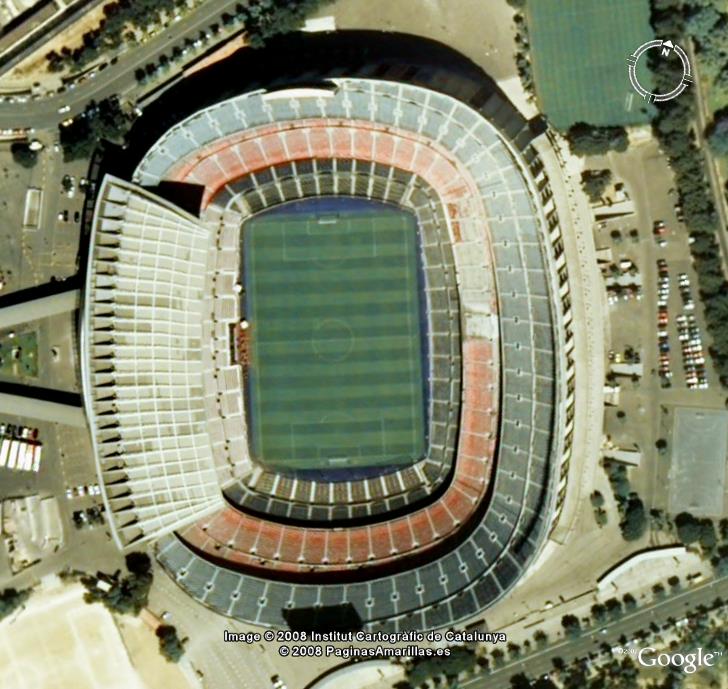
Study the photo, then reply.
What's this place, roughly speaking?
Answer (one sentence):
The area seen from above is a sports ground.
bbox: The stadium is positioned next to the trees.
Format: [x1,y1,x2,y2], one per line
[74,63,583,646]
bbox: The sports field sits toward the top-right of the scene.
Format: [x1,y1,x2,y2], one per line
[528,0,655,128]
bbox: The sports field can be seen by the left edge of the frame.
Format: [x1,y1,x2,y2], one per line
[0,590,140,689]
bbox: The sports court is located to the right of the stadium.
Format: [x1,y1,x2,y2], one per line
[670,407,728,518]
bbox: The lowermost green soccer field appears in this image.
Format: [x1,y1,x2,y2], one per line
[250,210,424,469]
